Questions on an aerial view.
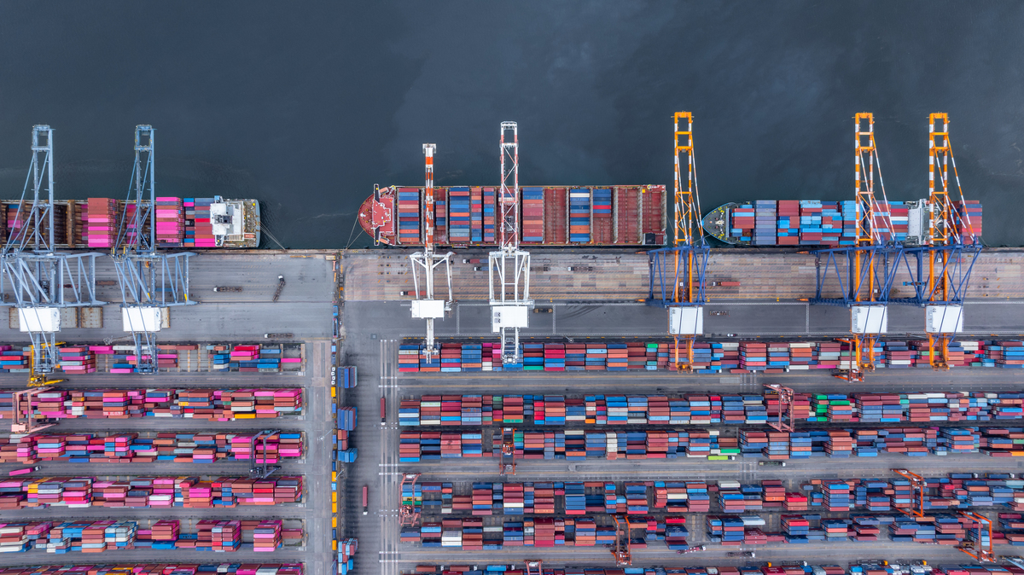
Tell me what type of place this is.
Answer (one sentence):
This looks like a port.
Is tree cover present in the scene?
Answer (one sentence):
No, tree cover can't be seen anywhere here.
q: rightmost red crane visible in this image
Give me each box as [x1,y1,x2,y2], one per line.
[953,510,995,563]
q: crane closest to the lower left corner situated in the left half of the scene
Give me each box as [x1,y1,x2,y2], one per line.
[8,386,57,433]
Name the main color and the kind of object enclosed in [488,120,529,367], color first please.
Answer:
white container crane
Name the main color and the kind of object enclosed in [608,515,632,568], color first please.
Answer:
red crane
